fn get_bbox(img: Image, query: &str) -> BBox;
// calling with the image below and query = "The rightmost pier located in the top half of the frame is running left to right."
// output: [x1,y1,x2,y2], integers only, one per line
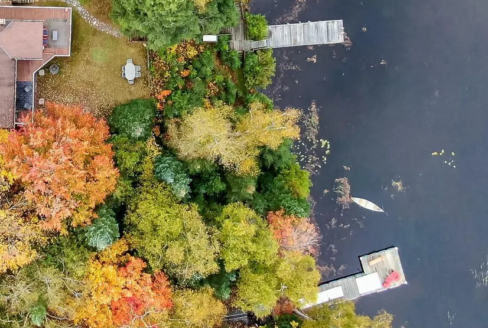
[253,20,345,49]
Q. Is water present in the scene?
Yes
